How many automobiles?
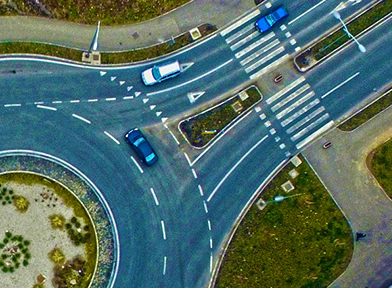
3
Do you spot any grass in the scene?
Yes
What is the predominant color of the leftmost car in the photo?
blue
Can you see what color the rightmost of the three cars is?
blue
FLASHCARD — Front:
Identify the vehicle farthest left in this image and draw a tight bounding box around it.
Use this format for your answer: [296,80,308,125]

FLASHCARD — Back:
[125,128,159,167]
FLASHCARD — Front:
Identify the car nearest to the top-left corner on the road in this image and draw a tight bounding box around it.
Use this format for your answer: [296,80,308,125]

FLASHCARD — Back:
[141,60,183,88]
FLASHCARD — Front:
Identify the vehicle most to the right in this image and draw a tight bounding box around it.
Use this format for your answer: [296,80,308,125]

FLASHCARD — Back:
[254,3,290,33]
